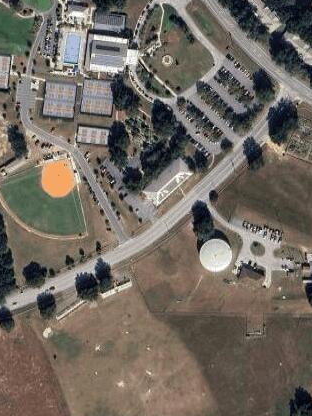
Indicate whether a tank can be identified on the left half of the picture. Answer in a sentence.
No, I see no tank on the left half of the picture.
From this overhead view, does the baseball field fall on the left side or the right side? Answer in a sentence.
The baseball field is on the left side of the image.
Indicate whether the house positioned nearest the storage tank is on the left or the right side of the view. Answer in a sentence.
You can find the house positioned nearest the storage tank on the right side of the picture.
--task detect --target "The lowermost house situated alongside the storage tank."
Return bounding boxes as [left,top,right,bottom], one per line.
[239,262,266,281]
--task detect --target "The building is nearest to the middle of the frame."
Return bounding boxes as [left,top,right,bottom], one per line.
[139,158,194,204]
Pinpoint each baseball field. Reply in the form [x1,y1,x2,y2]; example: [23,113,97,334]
[0,159,87,239]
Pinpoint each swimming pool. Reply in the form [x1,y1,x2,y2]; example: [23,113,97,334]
[64,32,81,64]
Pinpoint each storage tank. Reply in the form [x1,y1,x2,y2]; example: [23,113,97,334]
[200,239,233,271]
